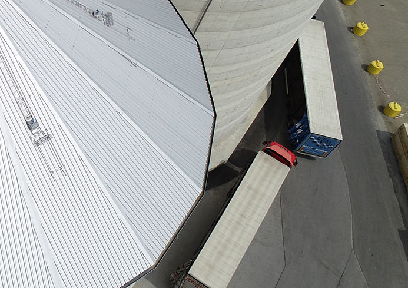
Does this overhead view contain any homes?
No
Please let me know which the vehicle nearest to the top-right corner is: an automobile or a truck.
truck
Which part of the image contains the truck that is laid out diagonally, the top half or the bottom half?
bottom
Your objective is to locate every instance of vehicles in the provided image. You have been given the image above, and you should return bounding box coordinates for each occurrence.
[282,11,343,162]
[165,135,300,288]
